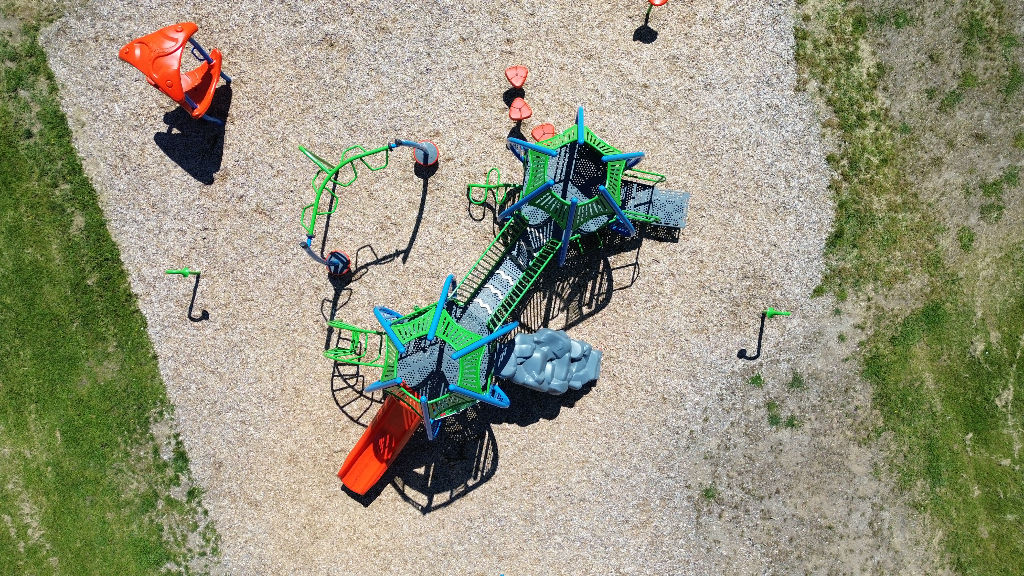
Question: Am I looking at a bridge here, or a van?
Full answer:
It is a bridge that can be seen here.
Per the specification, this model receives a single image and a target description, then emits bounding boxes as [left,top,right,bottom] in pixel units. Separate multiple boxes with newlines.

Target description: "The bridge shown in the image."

[450,212,561,330]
